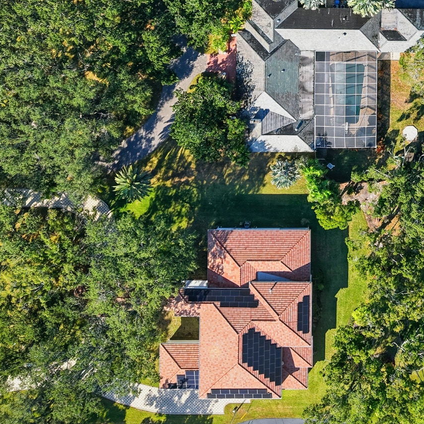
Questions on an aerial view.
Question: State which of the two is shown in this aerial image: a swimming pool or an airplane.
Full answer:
This aerial view contains a swimming pool.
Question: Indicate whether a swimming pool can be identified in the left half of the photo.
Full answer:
No, there is no swimming pool in the left half of the photo.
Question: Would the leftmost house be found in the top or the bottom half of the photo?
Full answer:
You can find the leftmost house in the bottom half.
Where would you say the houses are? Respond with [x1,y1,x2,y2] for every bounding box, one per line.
[236,0,424,152]
[159,226,314,399]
